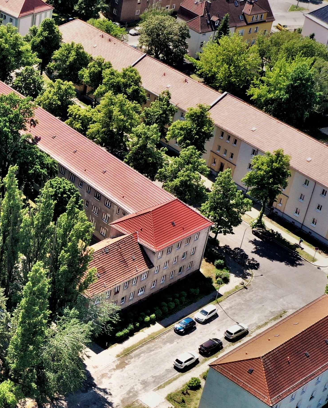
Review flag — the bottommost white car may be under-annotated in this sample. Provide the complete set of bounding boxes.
[172,352,202,371]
